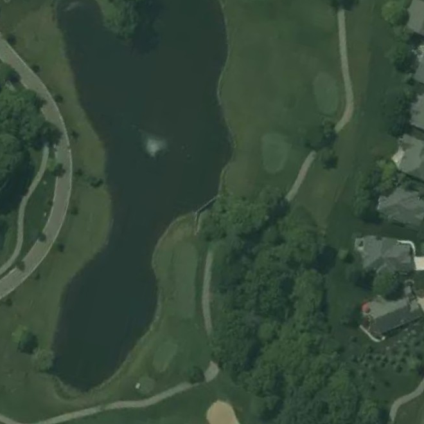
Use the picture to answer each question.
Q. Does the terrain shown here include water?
Yes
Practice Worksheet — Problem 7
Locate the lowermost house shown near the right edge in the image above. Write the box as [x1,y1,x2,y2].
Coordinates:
[364,290,424,340]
